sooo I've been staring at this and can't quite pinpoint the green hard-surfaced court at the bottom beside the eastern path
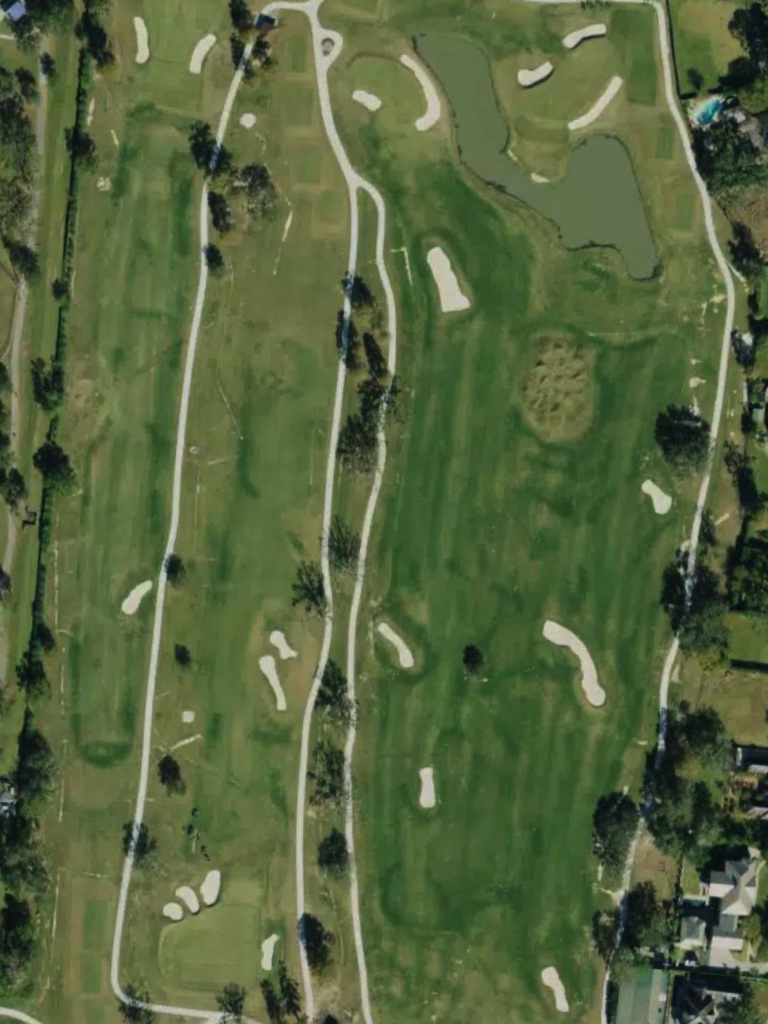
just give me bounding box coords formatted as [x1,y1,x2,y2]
[616,969,667,1024]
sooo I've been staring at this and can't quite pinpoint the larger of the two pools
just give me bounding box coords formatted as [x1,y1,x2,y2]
[687,93,726,127]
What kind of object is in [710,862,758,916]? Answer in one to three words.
house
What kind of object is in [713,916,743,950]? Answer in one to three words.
building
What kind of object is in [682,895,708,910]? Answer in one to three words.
swimming pool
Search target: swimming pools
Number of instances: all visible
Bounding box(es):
[682,895,708,910]
[687,93,726,127]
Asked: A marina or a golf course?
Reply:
golf course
